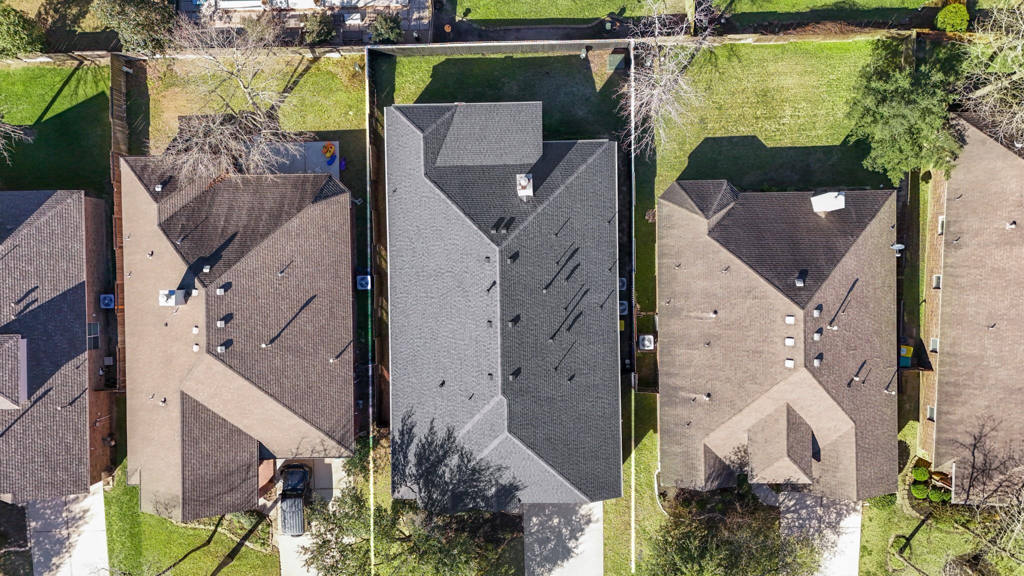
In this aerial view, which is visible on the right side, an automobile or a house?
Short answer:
house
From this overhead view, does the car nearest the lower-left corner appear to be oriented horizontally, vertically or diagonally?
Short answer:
vertically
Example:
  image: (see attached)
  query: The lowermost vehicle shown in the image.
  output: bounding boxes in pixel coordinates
[278,463,315,537]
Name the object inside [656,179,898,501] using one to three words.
house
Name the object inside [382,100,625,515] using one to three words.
house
